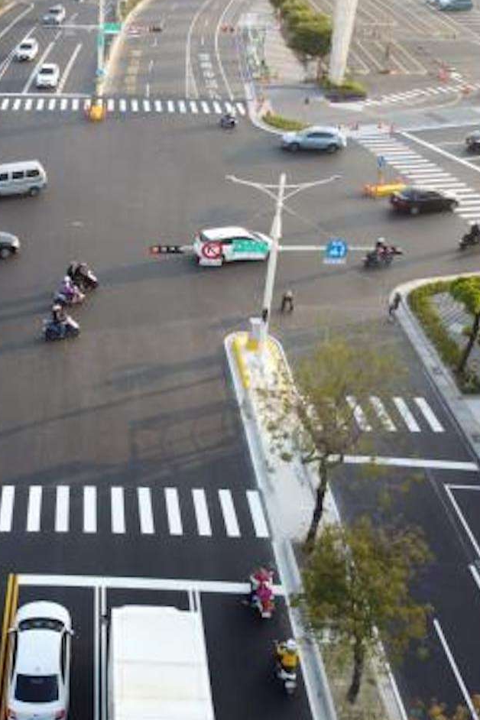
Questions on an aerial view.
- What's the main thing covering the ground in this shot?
paved ground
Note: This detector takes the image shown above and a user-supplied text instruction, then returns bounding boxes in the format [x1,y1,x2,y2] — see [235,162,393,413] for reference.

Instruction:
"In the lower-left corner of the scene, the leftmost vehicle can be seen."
[5,599,78,720]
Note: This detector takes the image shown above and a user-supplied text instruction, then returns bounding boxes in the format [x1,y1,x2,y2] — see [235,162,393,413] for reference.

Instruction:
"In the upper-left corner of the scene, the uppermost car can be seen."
[44,6,64,23]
